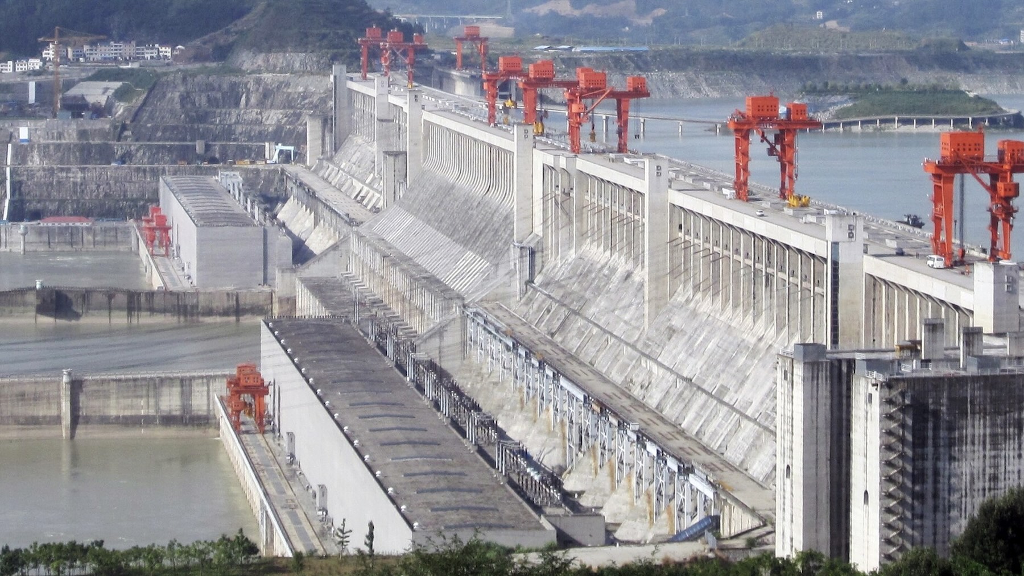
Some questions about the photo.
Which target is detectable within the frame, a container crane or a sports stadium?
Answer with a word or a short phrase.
container crane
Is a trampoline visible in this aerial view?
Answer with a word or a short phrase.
No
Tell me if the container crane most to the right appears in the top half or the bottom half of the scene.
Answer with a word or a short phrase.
top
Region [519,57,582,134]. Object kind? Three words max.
container crane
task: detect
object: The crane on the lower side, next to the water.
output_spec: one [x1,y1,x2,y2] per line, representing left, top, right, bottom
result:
[234,361,277,432]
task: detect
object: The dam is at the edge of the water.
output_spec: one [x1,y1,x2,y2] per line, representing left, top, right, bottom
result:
[278,73,1024,575]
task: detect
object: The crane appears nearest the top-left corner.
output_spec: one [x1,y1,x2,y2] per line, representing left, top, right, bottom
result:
[38,27,106,114]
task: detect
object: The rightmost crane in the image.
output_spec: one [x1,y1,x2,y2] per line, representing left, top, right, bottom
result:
[919,129,1024,265]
